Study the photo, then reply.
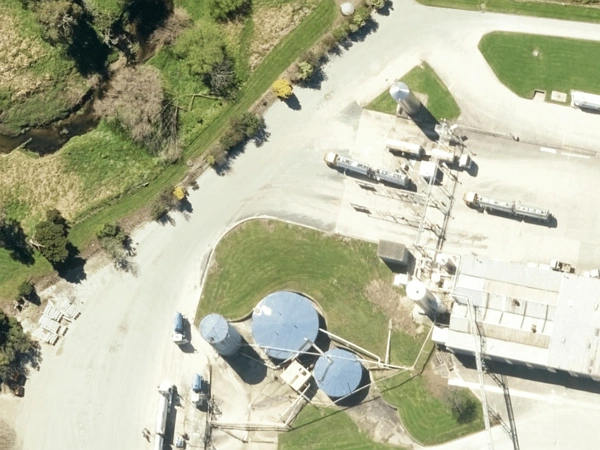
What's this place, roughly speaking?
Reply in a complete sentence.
This looks like an industrial area.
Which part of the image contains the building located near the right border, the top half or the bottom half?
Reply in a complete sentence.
You can find the building located near the right border in the bottom half.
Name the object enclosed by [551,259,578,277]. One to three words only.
vehicle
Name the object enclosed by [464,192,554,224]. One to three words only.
truck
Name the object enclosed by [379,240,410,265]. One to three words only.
shed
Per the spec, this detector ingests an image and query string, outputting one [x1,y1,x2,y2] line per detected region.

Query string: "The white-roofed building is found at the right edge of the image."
[443,253,600,381]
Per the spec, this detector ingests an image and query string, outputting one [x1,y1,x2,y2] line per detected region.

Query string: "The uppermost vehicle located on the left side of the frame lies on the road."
[174,312,188,344]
